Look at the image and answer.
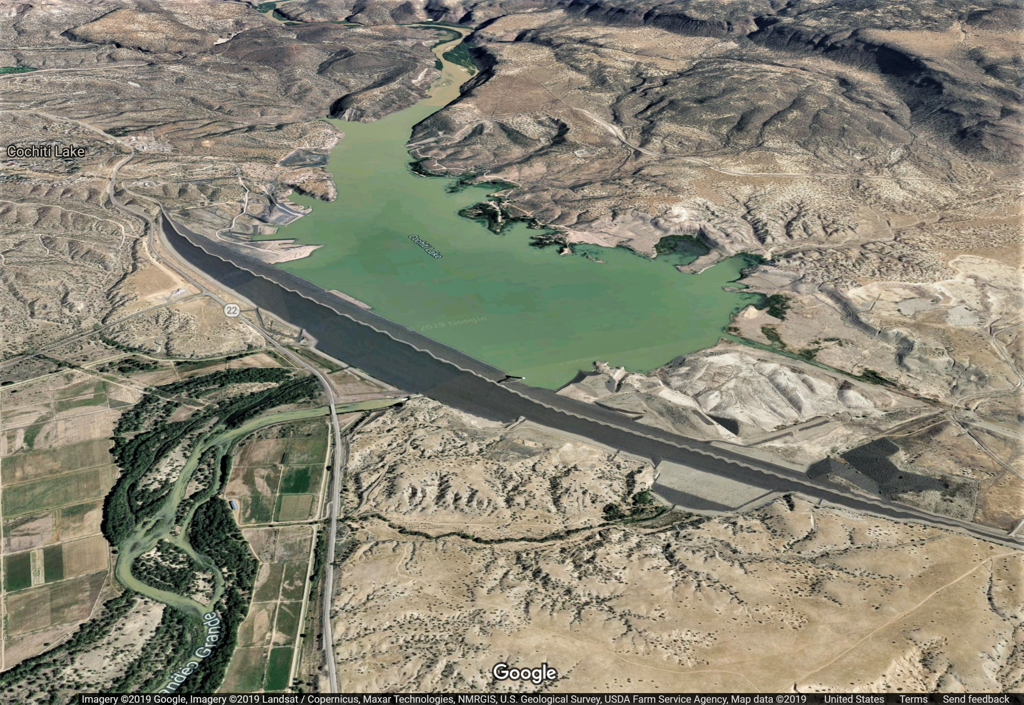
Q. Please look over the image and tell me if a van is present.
No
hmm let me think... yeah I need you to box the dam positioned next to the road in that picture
[158,204,1024,556]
